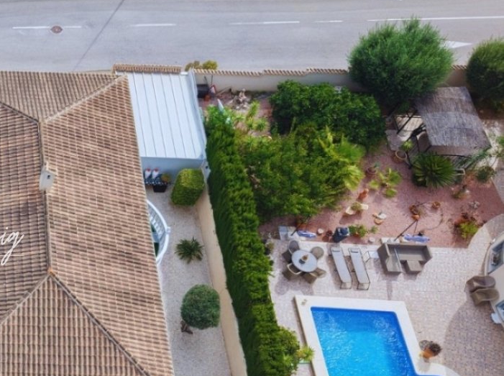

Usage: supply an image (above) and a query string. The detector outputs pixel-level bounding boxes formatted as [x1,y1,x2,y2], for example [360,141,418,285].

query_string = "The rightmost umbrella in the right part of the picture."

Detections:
[399,214,430,246]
